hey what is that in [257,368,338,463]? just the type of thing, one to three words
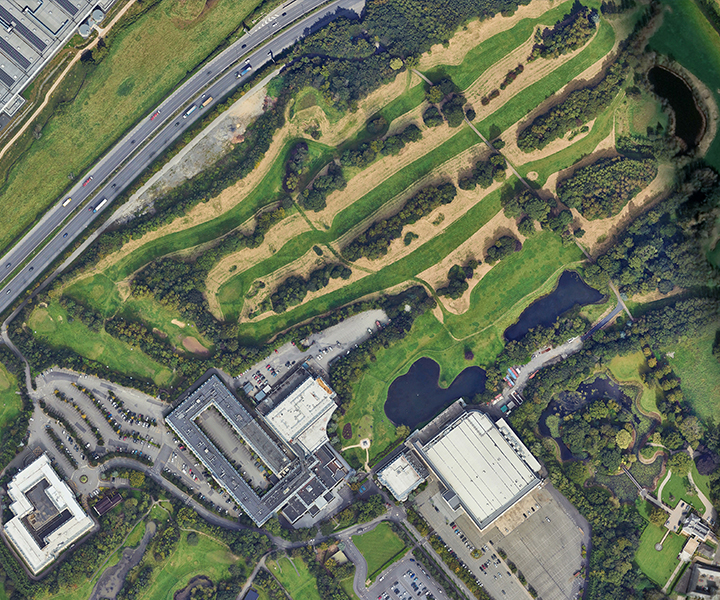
building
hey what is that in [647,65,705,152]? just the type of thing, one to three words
pond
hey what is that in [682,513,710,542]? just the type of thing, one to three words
house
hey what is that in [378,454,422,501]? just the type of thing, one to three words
building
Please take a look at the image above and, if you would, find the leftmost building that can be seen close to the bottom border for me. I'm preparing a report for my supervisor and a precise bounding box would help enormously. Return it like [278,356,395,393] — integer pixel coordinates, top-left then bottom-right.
[4,453,95,575]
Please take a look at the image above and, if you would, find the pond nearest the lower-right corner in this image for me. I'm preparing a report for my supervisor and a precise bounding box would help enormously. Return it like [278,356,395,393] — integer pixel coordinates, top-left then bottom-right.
[540,370,664,504]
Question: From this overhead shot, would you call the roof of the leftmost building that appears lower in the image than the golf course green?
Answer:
No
